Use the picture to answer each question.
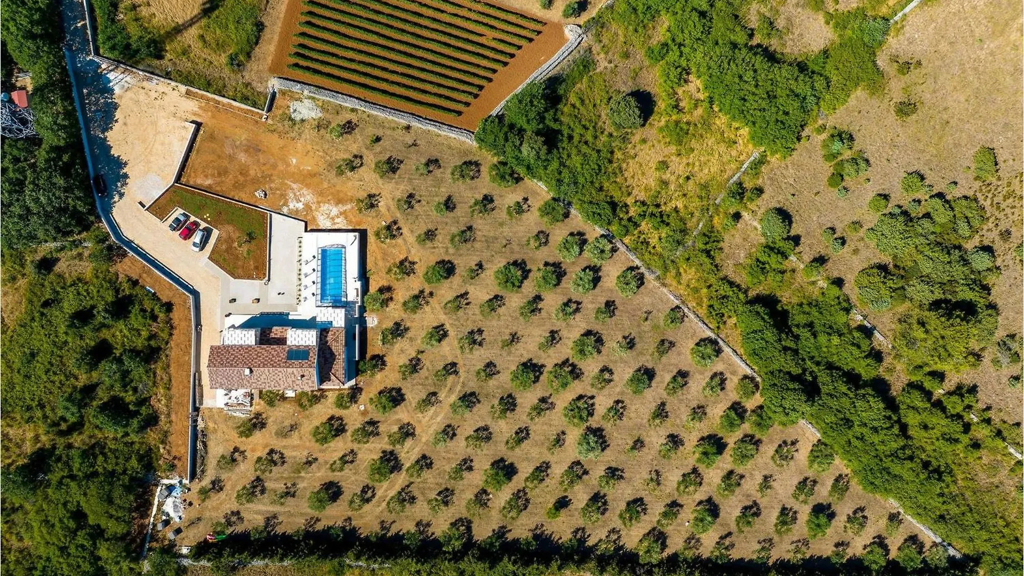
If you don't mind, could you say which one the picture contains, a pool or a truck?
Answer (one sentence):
There is a pool in the scene.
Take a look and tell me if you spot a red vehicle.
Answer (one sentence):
Yes, this view includes a red vehicle.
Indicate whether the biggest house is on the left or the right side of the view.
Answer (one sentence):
You can find the biggest house on the left side of the picture.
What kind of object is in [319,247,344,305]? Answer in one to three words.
swimming pool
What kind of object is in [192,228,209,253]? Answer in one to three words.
car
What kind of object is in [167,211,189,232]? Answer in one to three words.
car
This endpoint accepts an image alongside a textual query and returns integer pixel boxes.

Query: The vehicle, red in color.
[178,220,200,240]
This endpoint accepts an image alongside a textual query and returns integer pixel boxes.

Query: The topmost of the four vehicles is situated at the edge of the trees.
[93,173,109,198]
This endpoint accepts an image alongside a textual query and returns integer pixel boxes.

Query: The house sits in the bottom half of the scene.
[206,327,351,390]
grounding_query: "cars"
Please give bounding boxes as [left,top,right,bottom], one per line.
[192,228,209,253]
[178,220,200,240]
[93,173,109,198]
[167,211,189,232]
